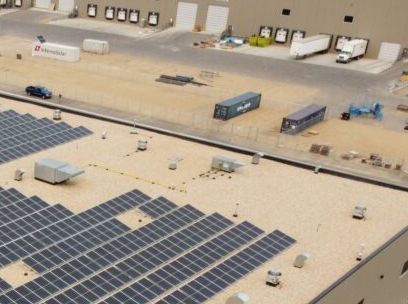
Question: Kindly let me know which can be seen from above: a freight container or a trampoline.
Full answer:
The one in the frame is a freight container.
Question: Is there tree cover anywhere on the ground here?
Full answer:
No, the scene doesn't show any tree cover.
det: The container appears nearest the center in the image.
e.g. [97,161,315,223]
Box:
[213,91,261,121]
